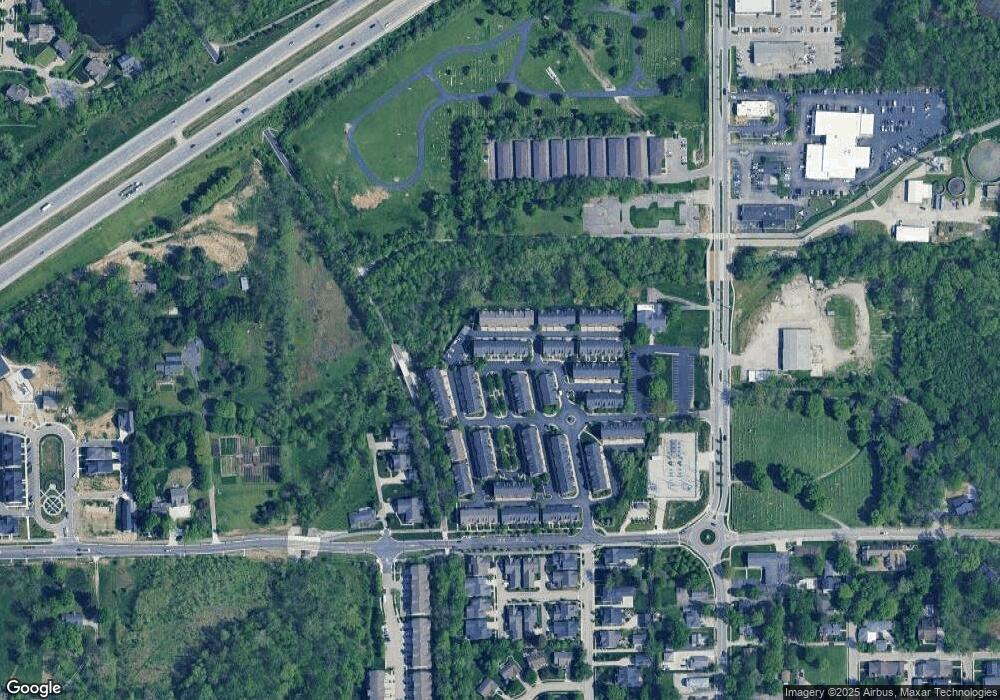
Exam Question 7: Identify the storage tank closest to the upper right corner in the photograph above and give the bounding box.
[969,140,1000,183]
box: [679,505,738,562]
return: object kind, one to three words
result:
roundabout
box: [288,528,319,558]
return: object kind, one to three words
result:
bridge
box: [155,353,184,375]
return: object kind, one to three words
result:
house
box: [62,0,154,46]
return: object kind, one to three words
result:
pond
